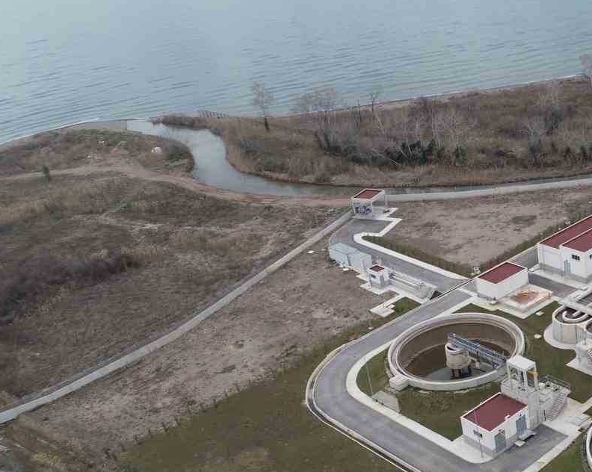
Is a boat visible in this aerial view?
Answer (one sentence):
No, there's no boat here.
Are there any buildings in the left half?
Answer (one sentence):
No, in the left half there is no building.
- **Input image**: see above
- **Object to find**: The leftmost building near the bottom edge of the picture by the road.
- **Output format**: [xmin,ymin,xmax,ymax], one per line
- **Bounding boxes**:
[461,393,537,457]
